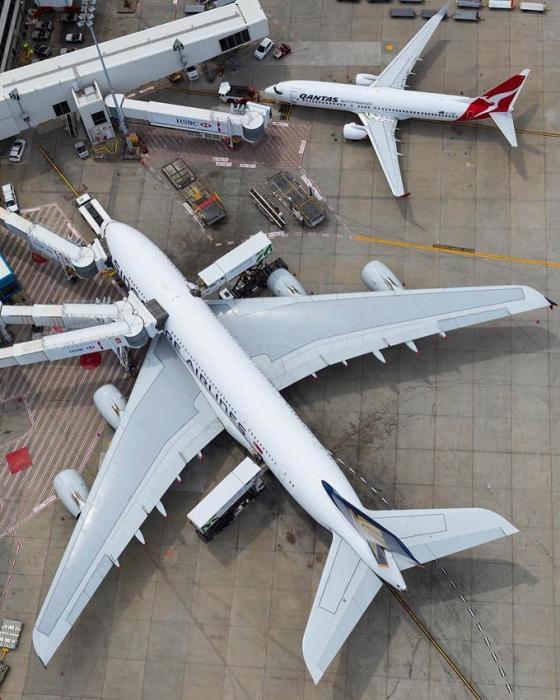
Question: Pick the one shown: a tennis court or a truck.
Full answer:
The image shows a truck.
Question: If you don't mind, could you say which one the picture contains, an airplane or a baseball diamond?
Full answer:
There is an airplane in the scene.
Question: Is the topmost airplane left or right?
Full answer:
The topmost airplane is on the right side of the image.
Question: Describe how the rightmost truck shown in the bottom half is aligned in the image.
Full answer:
Seen from above, the rightmost truck shown in the bottom half lies at an angle.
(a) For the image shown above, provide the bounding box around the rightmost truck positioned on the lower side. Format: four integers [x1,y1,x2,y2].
[191,455,270,545]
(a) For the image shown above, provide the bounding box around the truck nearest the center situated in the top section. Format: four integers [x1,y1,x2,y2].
[205,241,295,306]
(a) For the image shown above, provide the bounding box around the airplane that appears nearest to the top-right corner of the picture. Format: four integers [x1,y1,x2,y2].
[265,0,531,196]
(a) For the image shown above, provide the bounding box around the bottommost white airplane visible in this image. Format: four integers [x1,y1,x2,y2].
[35,220,556,685]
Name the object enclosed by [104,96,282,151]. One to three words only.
jet bridge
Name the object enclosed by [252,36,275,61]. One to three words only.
car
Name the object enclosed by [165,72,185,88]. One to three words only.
work vehicle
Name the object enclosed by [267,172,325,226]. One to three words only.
work vehicle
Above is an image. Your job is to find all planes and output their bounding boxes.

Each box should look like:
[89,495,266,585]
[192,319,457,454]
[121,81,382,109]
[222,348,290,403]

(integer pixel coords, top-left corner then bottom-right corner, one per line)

[265,0,531,196]
[35,220,556,685]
